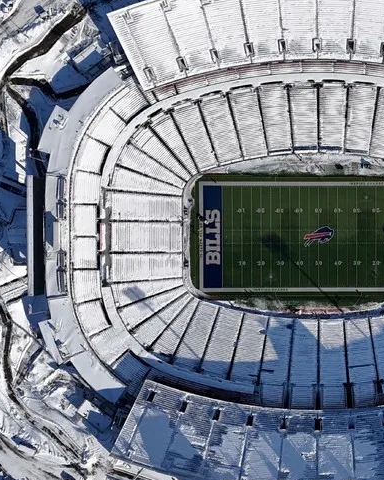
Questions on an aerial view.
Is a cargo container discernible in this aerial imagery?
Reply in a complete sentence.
No, this view has no cargo container in it.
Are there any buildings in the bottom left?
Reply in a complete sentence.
Yes, a building shows up in the bottom left.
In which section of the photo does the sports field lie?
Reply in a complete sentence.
The sports field sits in the right section of the image.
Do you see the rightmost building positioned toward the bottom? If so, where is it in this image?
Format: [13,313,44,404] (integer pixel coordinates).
[78,398,114,426]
